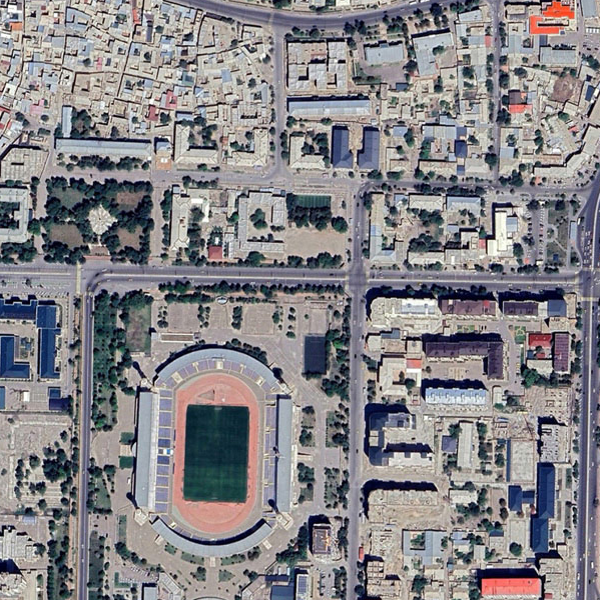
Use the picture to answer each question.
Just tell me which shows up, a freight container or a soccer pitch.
soccer pitch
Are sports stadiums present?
Yes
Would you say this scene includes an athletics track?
Yes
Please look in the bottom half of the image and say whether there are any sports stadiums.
Yes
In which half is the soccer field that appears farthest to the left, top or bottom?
bottom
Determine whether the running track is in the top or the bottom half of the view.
bottom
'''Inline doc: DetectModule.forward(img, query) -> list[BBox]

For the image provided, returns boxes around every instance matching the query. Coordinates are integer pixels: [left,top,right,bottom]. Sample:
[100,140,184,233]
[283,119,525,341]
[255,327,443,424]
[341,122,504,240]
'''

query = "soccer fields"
[185,406,249,502]
[297,195,330,207]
